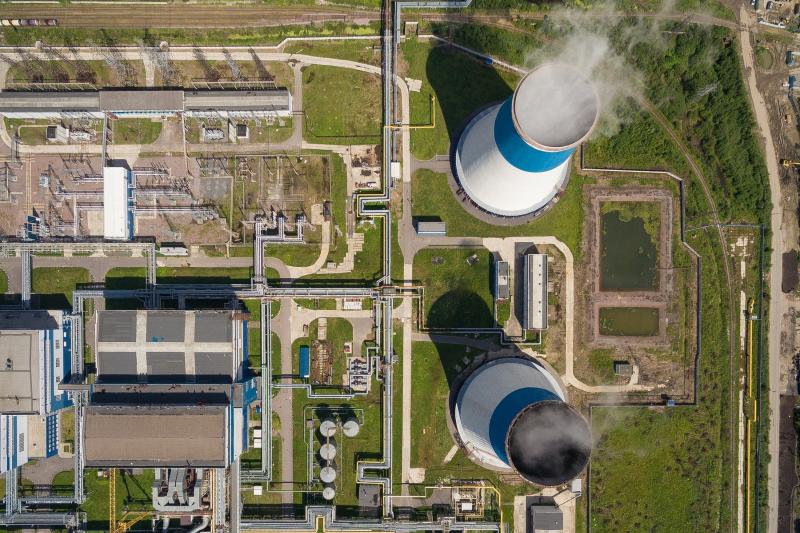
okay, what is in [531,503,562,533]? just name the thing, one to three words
building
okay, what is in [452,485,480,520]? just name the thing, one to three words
building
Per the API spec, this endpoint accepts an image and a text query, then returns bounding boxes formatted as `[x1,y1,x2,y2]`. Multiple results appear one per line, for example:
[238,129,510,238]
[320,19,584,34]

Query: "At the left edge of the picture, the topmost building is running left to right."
[0,89,294,123]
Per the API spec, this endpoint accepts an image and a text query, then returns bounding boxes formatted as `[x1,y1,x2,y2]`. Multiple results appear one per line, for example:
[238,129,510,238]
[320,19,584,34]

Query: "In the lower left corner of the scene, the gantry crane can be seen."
[109,467,153,533]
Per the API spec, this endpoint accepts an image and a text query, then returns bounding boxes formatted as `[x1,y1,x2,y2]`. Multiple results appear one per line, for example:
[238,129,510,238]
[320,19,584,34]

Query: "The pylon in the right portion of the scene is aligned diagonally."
[690,80,720,99]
